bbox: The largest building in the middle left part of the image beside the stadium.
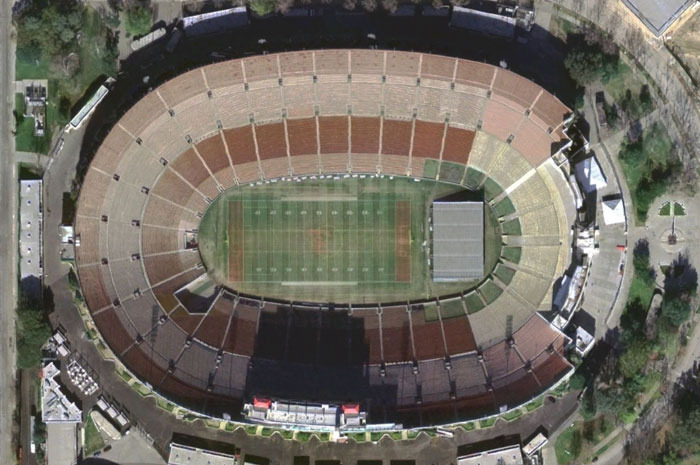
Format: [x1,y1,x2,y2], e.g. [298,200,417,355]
[21,180,42,313]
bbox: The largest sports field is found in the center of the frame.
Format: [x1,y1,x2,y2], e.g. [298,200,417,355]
[198,174,502,308]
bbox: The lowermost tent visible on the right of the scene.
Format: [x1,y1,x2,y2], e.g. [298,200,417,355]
[602,198,625,225]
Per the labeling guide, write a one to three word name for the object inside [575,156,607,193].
tent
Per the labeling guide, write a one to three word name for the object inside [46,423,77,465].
building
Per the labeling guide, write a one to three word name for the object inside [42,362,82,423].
building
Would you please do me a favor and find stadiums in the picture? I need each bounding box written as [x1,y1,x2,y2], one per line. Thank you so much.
[74,49,576,441]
